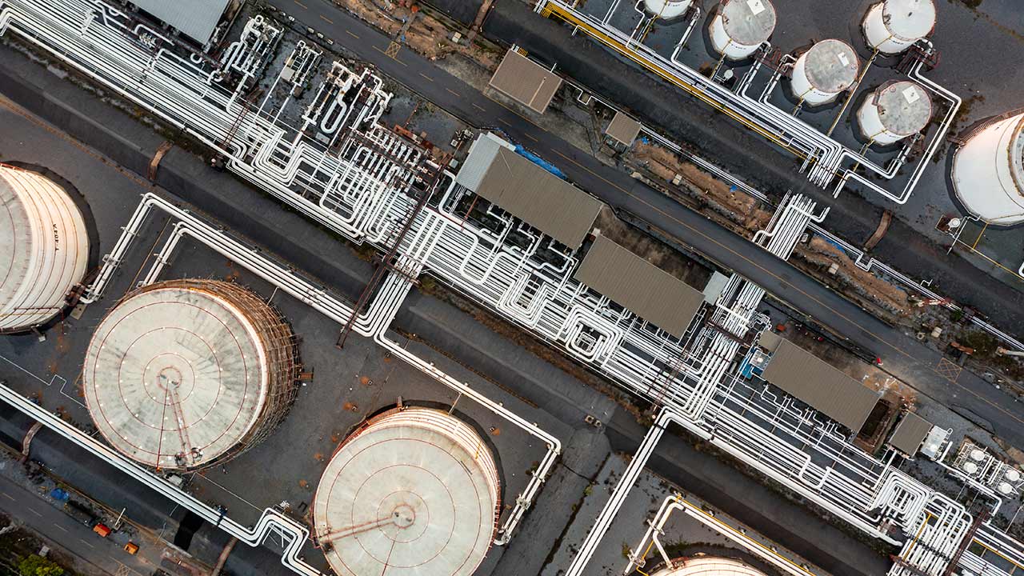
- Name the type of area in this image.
industrial area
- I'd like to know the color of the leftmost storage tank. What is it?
white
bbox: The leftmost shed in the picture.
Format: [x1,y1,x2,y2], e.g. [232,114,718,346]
[116,0,236,50]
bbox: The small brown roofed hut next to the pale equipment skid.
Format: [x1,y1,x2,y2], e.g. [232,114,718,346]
[883,411,933,457]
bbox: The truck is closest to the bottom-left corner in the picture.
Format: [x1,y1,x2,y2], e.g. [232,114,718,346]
[64,502,116,539]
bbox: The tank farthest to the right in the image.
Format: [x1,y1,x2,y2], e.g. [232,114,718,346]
[945,90,1024,231]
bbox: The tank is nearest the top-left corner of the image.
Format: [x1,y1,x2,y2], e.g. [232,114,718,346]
[0,153,99,343]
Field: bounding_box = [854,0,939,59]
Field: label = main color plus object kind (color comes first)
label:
white storage tank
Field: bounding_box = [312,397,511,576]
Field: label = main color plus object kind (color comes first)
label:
white storage tank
